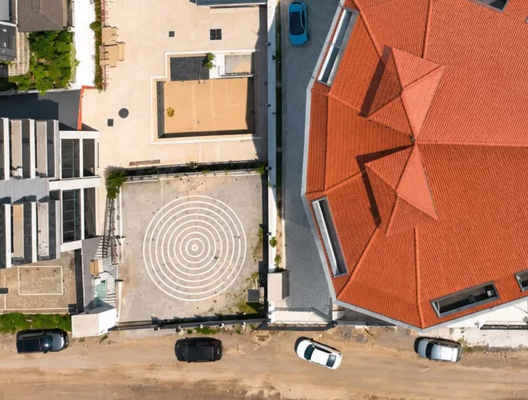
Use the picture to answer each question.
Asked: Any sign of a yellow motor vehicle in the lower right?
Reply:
No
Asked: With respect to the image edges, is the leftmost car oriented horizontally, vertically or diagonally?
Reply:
horizontally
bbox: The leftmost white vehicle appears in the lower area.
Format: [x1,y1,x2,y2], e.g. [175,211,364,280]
[293,335,345,369]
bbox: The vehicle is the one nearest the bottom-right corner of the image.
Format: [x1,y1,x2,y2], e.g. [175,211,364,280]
[414,335,462,364]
